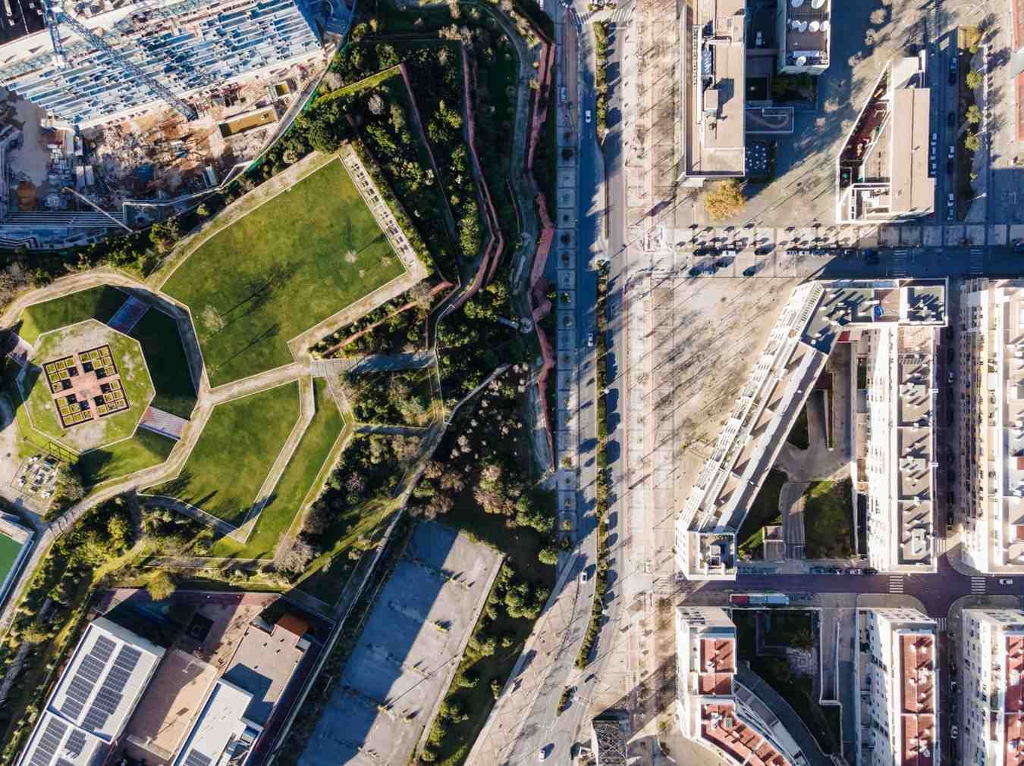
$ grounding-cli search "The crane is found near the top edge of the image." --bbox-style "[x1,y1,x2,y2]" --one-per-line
[47,0,199,123]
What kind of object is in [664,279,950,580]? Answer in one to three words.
building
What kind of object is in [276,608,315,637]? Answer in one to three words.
building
